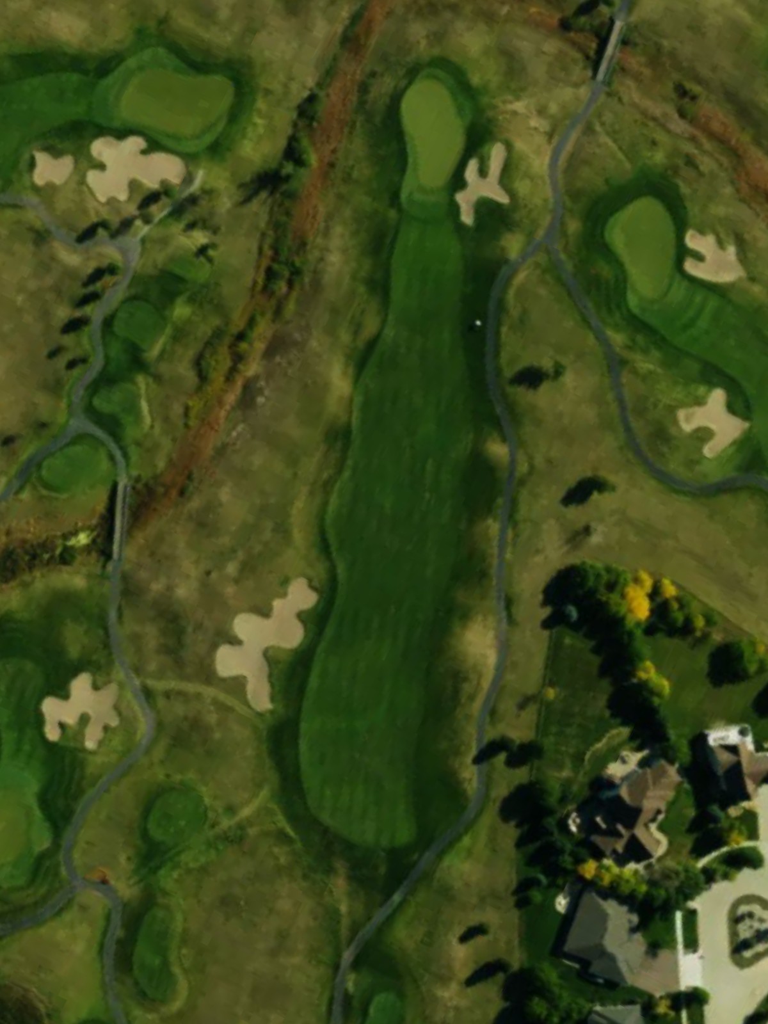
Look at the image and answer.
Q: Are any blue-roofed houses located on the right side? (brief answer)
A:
No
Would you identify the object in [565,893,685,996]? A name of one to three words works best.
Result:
house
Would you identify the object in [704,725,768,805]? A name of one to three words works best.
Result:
house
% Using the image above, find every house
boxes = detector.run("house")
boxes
[590,754,685,871]
[589,1005,654,1024]
[565,893,685,996]
[704,725,768,805]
